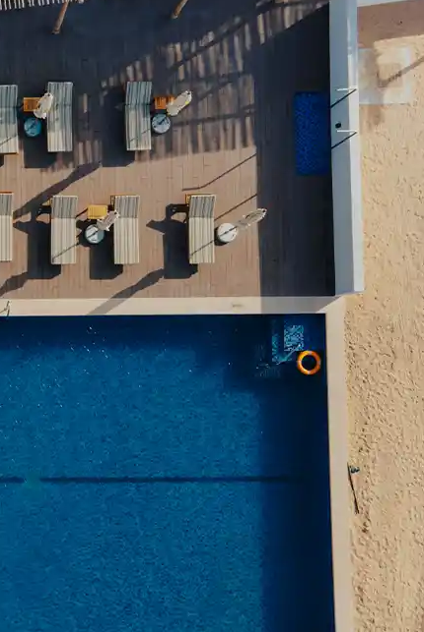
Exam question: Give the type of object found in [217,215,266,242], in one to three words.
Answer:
umbrella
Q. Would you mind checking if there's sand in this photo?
Yes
